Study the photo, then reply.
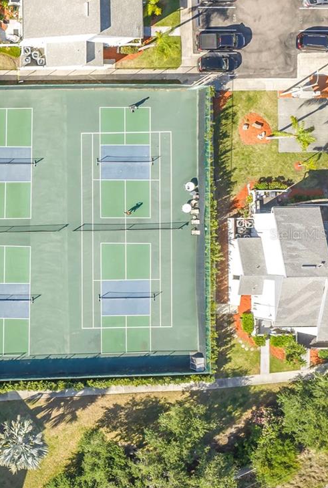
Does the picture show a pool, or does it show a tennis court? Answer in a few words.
tennis court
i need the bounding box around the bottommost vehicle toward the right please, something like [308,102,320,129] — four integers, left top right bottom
[195,52,236,71]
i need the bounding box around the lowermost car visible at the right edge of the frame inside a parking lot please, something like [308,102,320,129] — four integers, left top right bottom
[294,30,328,51]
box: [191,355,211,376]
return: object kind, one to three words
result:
shed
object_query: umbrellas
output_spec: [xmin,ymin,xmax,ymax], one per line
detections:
[180,181,194,192]
[177,203,191,214]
